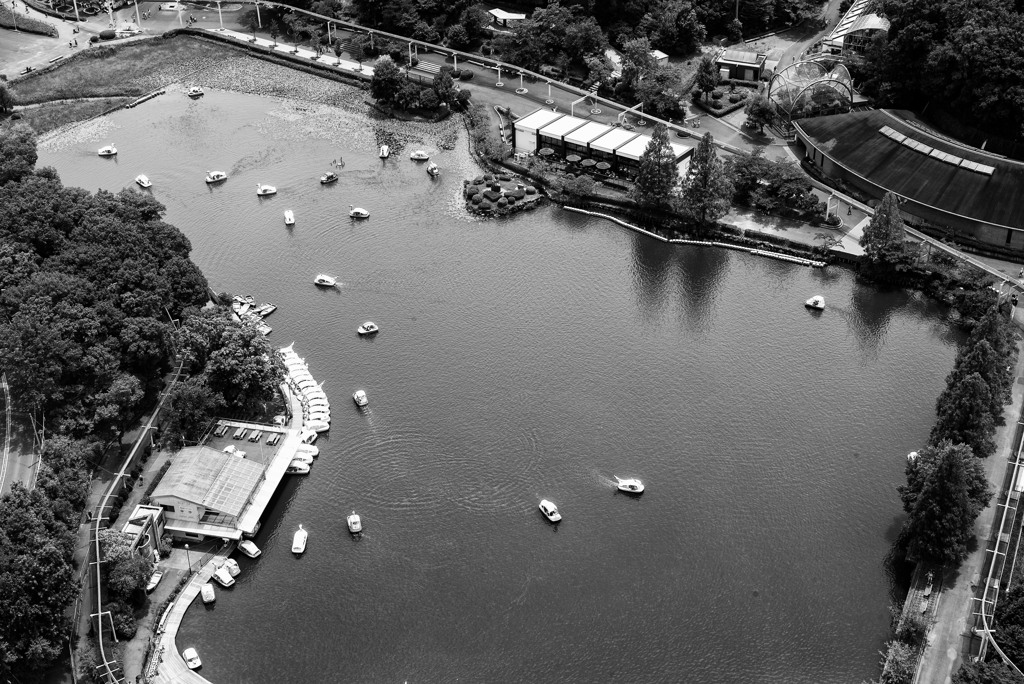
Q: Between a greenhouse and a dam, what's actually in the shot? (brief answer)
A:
greenhouse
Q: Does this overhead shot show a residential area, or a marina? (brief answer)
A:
marina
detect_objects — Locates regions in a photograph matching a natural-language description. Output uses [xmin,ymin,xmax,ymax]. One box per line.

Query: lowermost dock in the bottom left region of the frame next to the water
[151,546,247,684]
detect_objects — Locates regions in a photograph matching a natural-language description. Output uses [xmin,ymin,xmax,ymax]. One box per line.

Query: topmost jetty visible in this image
[280,378,302,434]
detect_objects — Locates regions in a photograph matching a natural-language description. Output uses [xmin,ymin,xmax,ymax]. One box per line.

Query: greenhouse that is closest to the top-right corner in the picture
[845,15,902,65]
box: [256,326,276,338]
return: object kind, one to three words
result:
boat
